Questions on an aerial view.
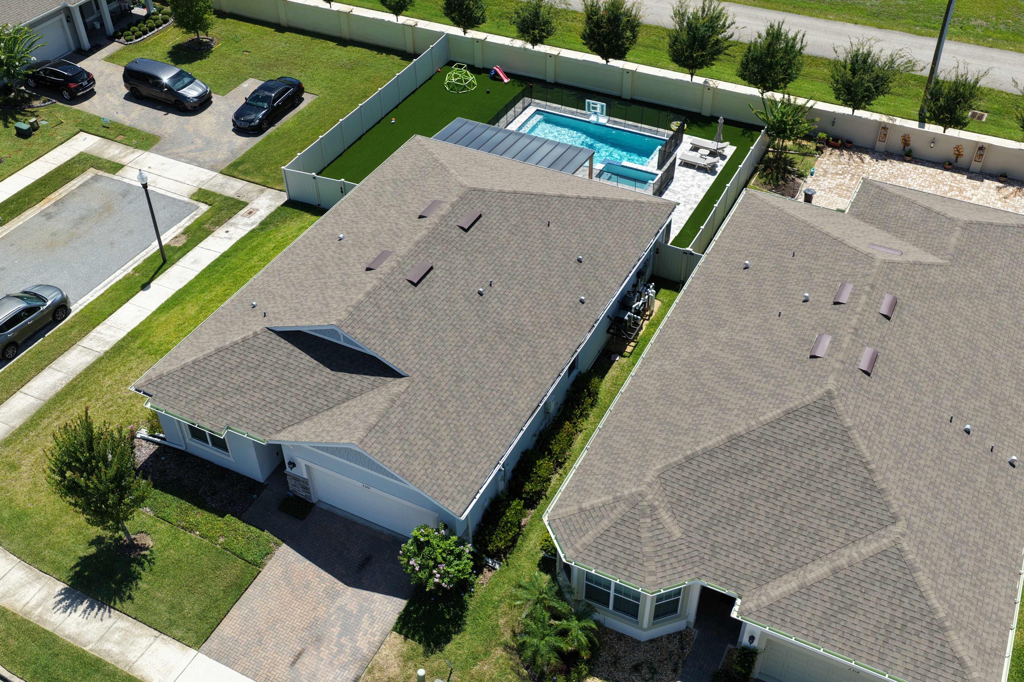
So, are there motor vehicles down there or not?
Yes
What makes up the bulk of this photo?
buildings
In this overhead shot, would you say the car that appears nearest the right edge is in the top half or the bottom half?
top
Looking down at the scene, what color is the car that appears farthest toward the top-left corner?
black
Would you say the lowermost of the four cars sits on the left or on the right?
left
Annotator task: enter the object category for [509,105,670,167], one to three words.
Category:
swimming pool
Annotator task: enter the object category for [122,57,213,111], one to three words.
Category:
car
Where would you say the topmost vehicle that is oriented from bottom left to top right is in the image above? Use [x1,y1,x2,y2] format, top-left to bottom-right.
[227,79,303,134]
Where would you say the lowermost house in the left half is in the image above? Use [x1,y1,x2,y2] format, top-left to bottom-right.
[130,135,679,578]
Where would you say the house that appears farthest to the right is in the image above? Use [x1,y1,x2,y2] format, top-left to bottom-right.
[543,178,1024,682]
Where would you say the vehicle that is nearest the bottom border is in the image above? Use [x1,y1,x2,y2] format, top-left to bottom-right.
[0,283,70,360]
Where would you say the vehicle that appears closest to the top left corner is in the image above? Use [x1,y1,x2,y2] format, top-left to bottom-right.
[22,58,99,98]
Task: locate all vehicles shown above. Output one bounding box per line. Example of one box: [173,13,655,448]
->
[122,57,213,111]
[22,58,99,98]
[0,283,70,360]
[227,79,303,134]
